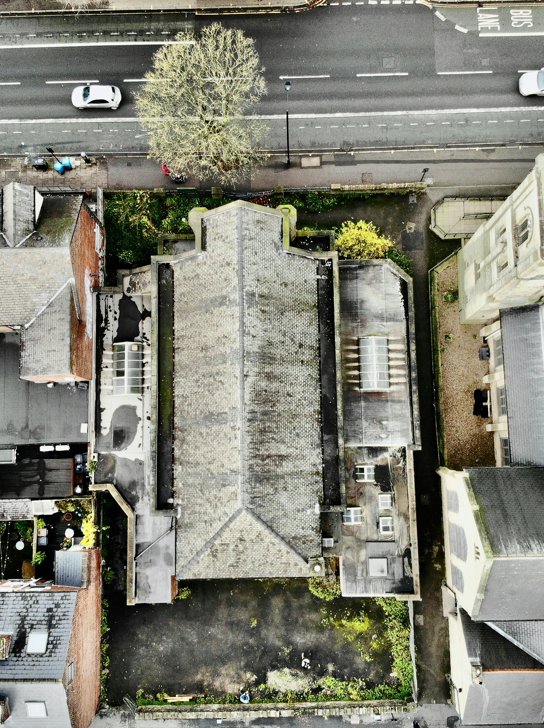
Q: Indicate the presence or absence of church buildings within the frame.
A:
Yes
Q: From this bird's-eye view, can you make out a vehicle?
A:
Yes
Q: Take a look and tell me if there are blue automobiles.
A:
No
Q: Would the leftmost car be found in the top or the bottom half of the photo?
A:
top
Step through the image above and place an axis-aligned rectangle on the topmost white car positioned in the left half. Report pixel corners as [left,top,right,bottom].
[70,83,123,112]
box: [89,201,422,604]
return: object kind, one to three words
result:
church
